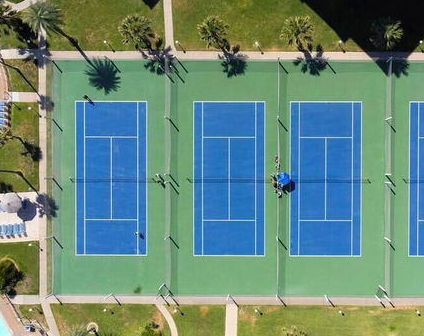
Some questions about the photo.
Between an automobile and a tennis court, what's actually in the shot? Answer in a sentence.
The one in the frame is a tennis court.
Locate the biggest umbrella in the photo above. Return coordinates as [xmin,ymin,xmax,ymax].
[1,192,22,212]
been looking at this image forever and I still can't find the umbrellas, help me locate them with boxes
[278,172,289,185]
[1,192,22,212]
